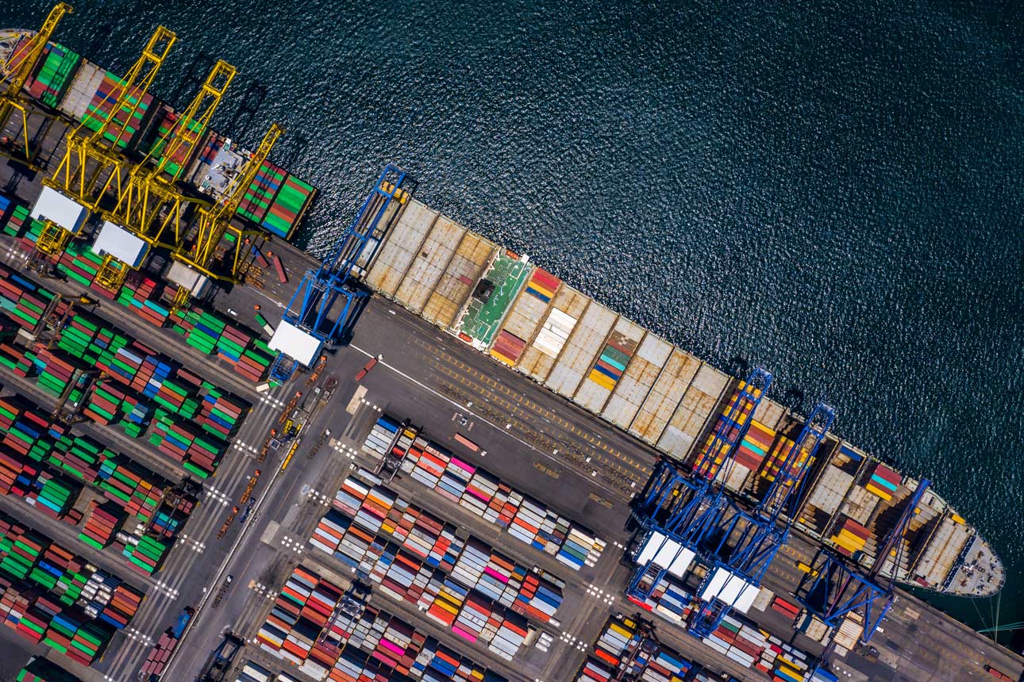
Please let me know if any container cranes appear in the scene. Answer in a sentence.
Yes, the picture does show a container crane.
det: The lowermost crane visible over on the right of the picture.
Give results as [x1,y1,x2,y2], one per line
[608,618,654,682]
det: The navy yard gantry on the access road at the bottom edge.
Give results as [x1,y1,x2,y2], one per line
[199,617,262,682]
